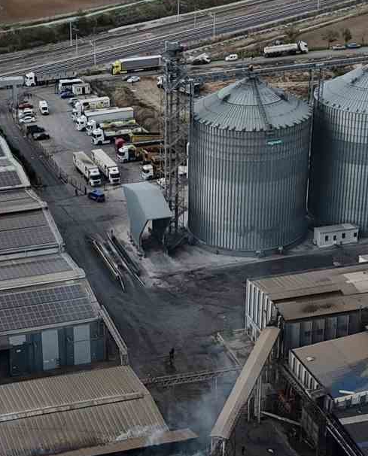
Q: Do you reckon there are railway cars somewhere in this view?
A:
No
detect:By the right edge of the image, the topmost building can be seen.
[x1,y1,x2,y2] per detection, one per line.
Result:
[314,220,362,247]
